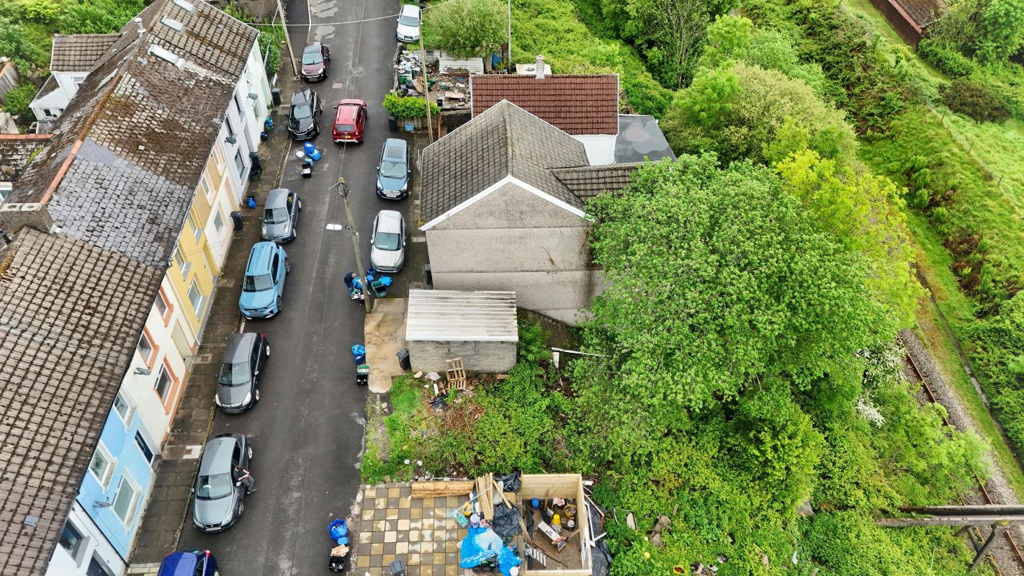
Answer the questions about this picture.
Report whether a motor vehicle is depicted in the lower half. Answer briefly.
Yes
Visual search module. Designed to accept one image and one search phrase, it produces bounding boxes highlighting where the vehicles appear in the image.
[394,6,420,41]
[286,87,324,139]
[373,136,411,198]
[259,187,301,242]
[300,44,332,81]
[333,102,367,145]
[214,334,270,414]
[239,244,290,319]
[367,212,407,272]
[188,430,254,533]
